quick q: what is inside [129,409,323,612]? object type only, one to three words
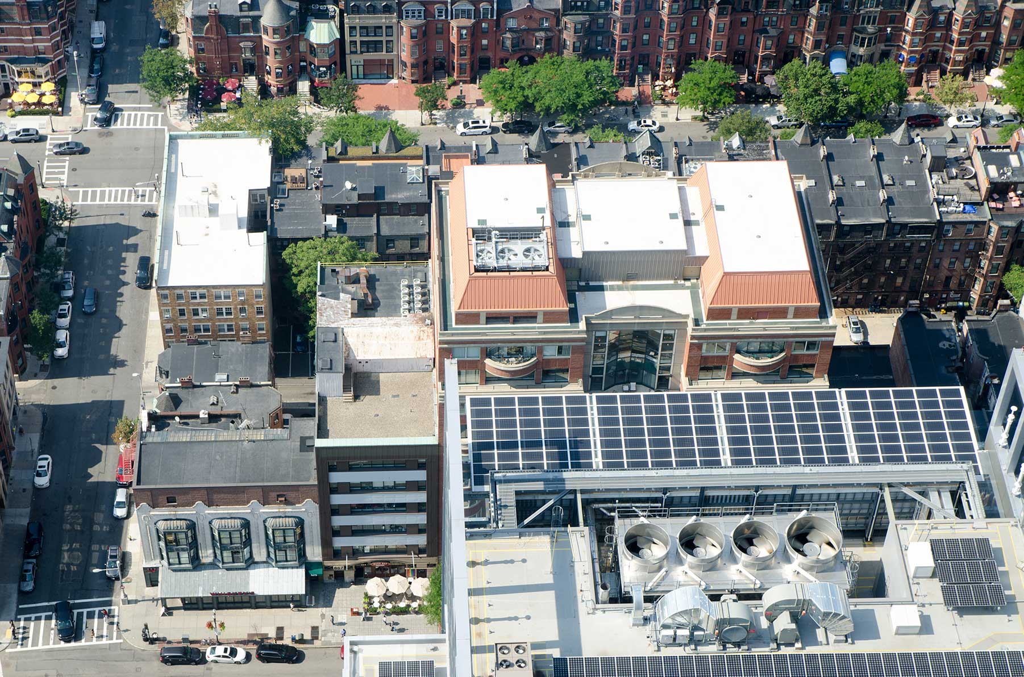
building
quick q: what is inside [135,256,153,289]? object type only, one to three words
vehicle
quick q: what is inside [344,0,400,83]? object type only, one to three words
building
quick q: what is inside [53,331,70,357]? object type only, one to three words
car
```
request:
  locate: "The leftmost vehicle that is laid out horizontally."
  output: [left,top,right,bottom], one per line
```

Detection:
[7,127,41,144]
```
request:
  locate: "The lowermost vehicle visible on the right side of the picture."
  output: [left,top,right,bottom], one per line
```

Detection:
[843,313,864,343]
